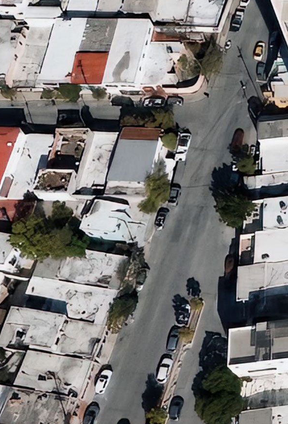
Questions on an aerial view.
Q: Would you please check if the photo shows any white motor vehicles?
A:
Yes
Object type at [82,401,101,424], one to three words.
car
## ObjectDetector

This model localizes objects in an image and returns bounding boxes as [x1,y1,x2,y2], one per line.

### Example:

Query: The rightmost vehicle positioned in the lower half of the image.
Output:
[223,253,236,276]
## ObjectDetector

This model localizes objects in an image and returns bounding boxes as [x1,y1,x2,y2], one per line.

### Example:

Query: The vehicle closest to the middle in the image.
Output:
[155,205,171,230]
